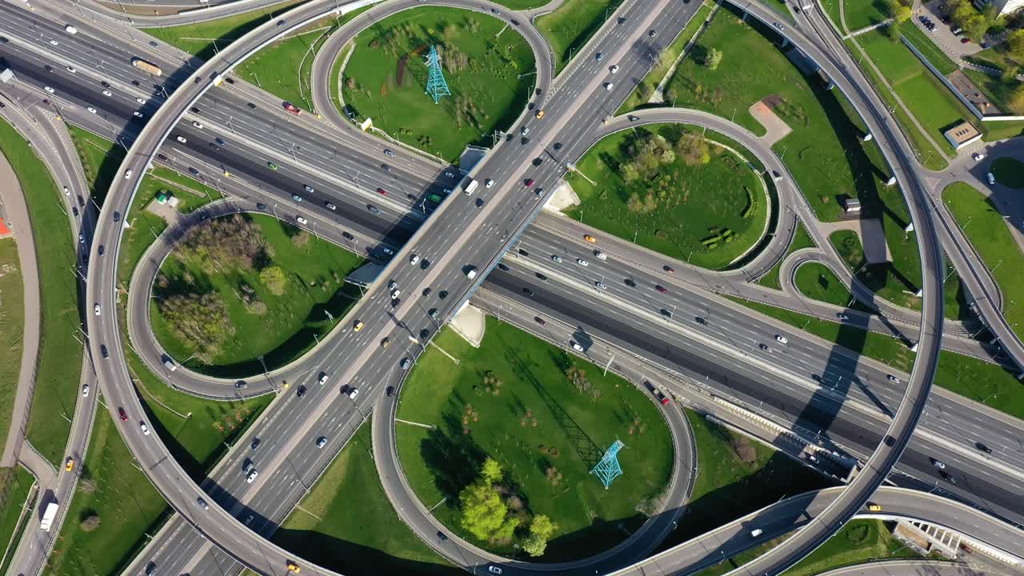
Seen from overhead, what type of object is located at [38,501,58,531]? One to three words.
vehicle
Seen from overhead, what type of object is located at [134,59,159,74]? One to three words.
vehicle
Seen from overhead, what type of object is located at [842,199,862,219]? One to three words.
shed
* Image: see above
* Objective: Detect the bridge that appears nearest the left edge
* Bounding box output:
[87,0,372,576]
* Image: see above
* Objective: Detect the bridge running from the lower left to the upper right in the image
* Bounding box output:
[385,149,559,320]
